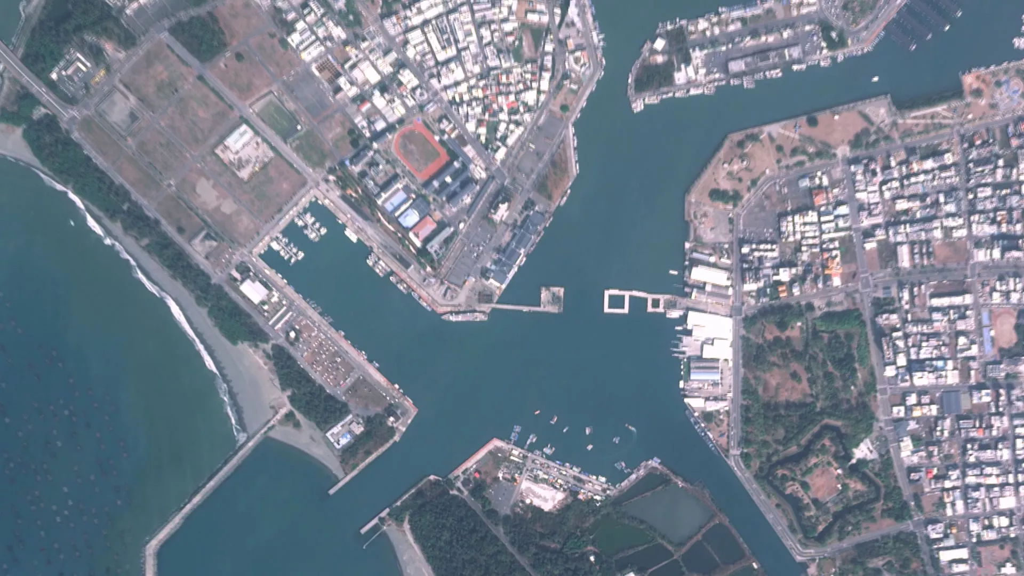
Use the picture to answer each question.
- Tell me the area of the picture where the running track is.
top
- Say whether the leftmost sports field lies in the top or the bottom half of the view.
top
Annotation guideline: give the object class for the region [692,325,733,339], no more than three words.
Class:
shed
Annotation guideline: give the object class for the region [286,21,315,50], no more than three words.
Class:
building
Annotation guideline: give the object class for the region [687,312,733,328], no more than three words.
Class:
shed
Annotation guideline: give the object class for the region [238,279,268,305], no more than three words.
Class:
building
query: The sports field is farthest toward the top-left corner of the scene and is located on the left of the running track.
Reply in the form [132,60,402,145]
[248,90,303,142]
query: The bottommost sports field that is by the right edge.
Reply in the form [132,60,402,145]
[992,308,1018,355]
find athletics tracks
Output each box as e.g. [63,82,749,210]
[394,117,449,181]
